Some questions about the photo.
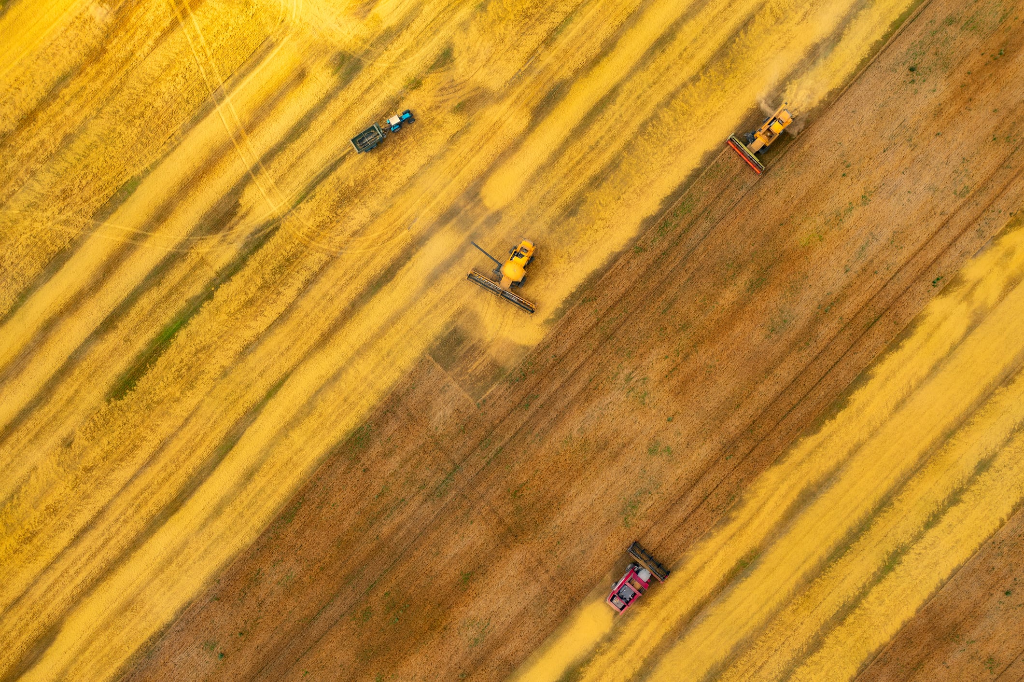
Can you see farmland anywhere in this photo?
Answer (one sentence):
Yes, farmland shows up in the scene.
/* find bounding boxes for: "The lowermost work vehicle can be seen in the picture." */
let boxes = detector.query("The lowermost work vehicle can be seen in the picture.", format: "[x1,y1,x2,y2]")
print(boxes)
[607,542,672,615]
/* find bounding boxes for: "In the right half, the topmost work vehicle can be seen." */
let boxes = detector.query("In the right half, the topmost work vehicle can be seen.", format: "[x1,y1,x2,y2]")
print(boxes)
[726,101,793,174]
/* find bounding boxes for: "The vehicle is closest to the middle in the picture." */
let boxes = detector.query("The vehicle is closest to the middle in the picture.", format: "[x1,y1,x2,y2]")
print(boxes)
[467,237,538,315]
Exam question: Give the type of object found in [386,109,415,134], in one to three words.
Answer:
work vehicle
